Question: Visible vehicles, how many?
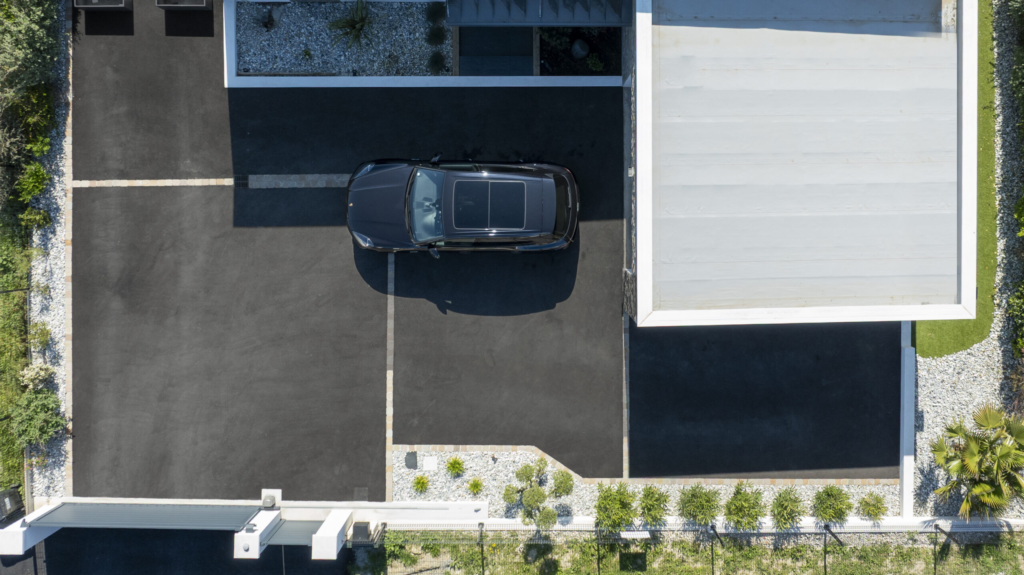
1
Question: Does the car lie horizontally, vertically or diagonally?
horizontally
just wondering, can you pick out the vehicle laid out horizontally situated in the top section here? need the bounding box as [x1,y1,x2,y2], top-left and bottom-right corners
[346,151,580,259]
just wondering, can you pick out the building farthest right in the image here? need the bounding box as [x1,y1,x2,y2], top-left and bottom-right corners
[625,0,977,326]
